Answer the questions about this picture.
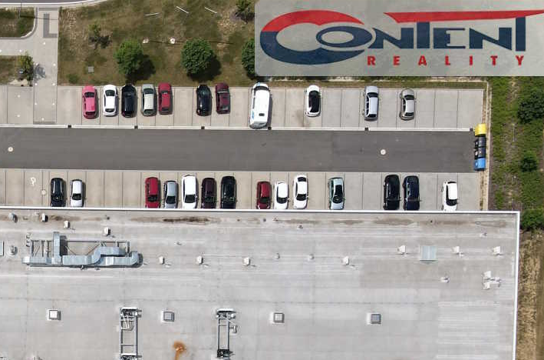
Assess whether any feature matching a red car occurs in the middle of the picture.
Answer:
Yes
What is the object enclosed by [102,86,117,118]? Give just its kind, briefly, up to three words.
car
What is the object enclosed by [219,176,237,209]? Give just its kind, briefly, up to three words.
car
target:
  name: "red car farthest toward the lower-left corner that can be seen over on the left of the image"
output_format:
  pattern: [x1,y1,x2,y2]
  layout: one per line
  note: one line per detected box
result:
[144,178,159,209]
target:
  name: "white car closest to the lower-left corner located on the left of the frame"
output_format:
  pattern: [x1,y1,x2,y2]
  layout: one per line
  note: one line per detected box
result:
[69,180,84,208]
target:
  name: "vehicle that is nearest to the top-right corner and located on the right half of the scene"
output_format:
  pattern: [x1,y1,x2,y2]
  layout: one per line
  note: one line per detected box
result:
[397,90,416,122]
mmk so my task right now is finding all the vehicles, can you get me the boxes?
[400,175,421,211]
[69,180,84,208]
[181,175,198,209]
[50,178,66,208]
[157,84,173,116]
[144,178,159,209]
[163,181,179,209]
[214,84,230,116]
[291,175,308,210]
[81,86,97,120]
[195,86,212,118]
[254,182,271,210]
[381,175,400,211]
[303,86,321,119]
[121,86,137,119]
[397,90,416,122]
[200,179,217,209]
[272,182,290,210]
[362,88,380,122]
[140,85,156,118]
[248,83,272,131]
[326,178,344,210]
[219,176,237,209]
[102,86,117,118]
